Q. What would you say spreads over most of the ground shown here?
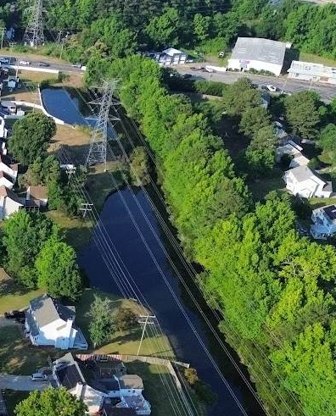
trees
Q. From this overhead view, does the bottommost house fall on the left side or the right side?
left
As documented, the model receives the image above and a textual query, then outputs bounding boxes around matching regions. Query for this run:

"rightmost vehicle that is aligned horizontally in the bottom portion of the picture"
[27,369,55,382]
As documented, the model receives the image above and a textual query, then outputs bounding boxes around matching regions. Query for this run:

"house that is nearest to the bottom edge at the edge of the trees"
[51,351,153,416]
